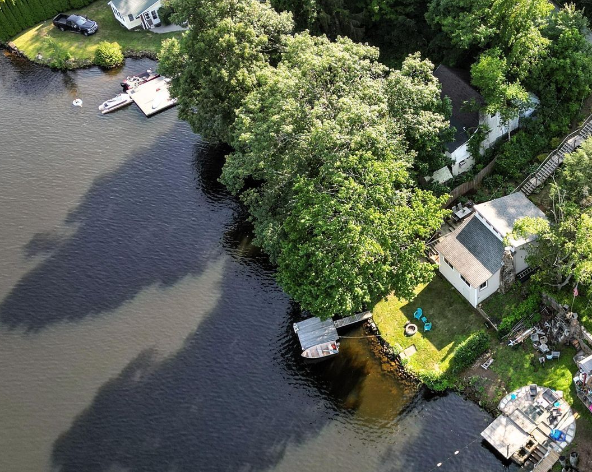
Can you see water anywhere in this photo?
Yes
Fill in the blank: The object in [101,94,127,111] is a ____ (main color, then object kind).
white boat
